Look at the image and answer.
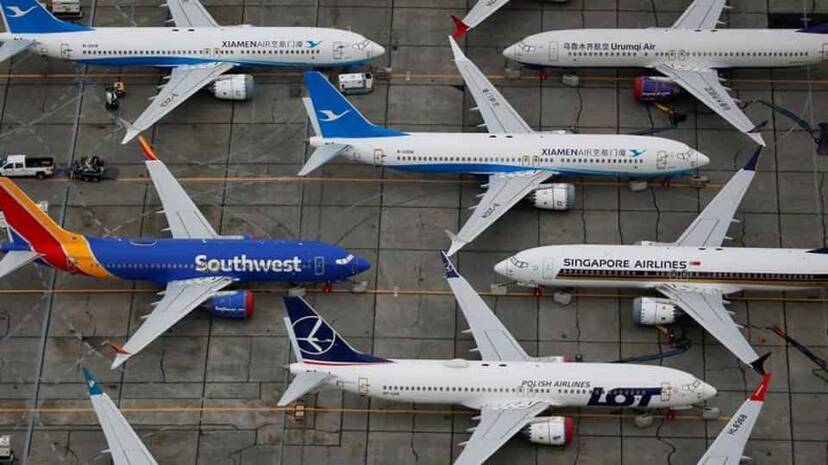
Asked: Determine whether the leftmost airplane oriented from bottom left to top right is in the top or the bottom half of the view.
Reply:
top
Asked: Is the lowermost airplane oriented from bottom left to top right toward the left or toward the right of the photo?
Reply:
right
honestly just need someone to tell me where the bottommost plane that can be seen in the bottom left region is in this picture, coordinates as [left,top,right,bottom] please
[83,367,155,465]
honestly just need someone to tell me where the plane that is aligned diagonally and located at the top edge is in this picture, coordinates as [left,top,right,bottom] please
[446,0,501,37]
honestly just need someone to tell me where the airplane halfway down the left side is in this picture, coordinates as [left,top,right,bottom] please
[0,136,370,367]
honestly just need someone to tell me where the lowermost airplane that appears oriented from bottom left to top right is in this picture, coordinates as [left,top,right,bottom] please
[698,374,771,465]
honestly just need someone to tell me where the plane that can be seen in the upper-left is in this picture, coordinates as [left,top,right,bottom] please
[0,0,385,142]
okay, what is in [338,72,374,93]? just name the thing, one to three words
vehicle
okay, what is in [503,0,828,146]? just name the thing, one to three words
airplane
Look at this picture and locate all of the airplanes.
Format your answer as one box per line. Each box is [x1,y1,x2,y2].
[276,251,717,465]
[698,374,771,465]
[446,0,501,37]
[494,143,828,376]
[503,0,828,146]
[83,367,155,465]
[0,136,370,367]
[298,35,710,254]
[0,0,385,142]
